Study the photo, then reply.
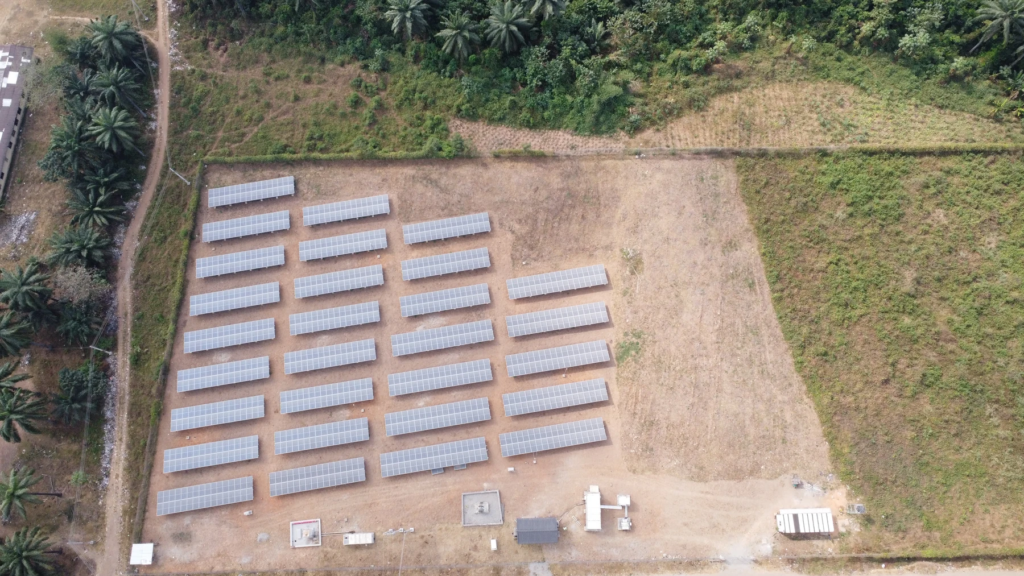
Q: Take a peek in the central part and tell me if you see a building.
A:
No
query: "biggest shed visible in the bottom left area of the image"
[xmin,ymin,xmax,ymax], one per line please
[130,541,159,567]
